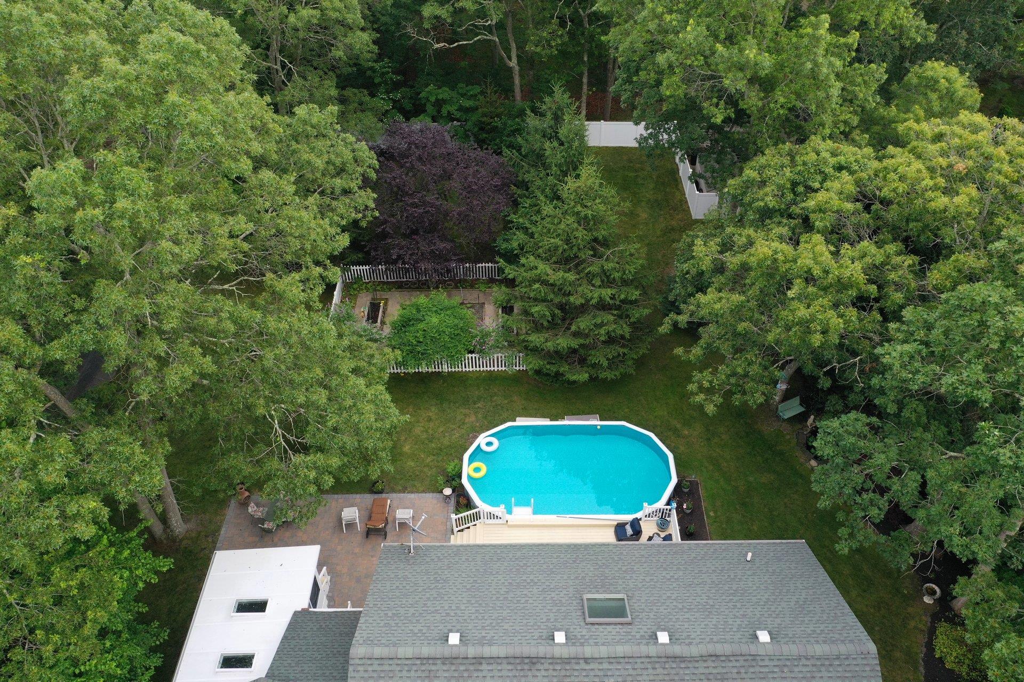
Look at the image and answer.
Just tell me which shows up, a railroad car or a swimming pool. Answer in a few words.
swimming pool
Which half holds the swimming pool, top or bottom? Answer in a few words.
bottom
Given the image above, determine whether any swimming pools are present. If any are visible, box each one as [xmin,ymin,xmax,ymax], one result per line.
[459,422,681,529]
